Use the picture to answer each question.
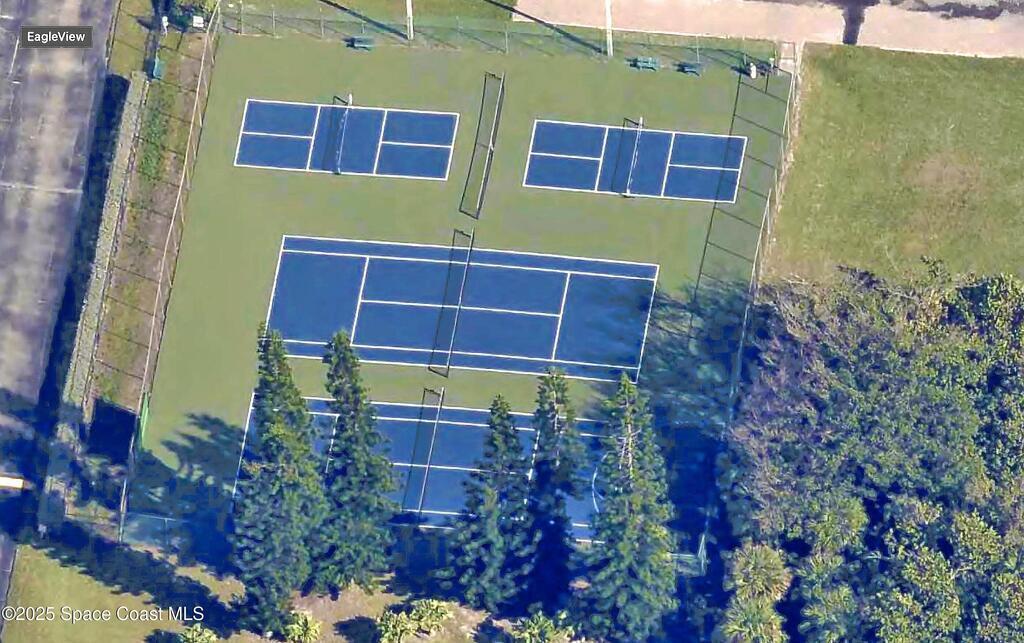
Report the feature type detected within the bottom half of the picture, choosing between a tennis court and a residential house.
tennis court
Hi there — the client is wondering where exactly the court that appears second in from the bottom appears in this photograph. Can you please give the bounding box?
[262,235,659,383]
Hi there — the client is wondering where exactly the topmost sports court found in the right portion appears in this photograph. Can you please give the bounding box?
[522,120,747,203]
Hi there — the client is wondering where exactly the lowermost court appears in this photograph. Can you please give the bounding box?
[230,392,630,540]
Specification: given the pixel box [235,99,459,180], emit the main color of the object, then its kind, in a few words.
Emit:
blue sports court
